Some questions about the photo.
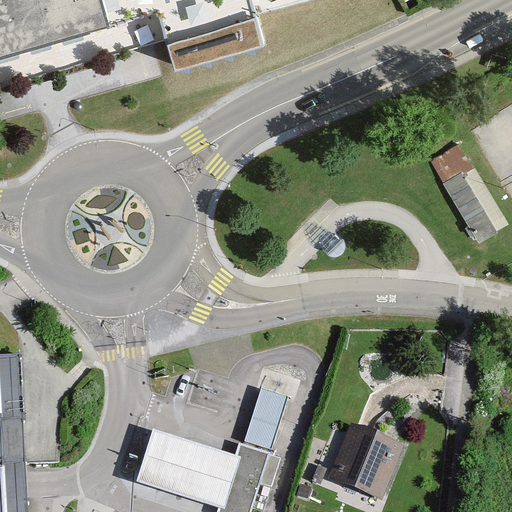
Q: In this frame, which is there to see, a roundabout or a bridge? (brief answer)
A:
roundabout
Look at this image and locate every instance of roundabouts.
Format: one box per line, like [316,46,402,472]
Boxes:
[21,140,198,317]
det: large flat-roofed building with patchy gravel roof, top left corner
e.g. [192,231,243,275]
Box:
[0,0,107,64]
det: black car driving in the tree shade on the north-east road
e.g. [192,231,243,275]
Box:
[300,95,324,112]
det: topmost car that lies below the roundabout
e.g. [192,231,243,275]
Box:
[176,373,190,396]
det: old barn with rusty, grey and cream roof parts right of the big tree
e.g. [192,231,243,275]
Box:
[432,144,509,243]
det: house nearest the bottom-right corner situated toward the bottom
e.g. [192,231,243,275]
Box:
[328,424,404,500]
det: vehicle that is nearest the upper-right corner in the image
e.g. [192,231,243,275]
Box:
[464,33,486,50]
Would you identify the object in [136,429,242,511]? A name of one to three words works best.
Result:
building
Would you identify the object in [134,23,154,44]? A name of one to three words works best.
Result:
umbrella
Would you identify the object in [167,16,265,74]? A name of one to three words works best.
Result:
building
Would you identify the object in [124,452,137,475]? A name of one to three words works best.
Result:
vehicle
